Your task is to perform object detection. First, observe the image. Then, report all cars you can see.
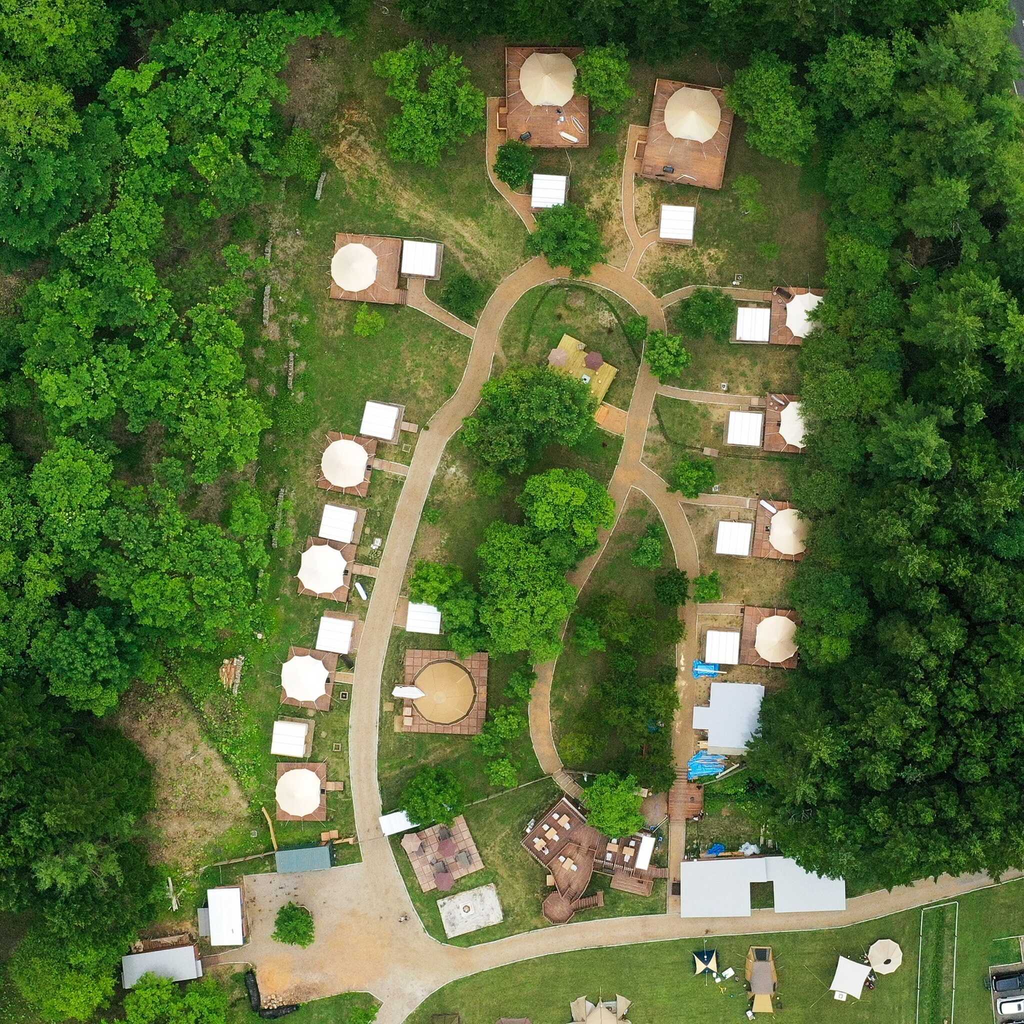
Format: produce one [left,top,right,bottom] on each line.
[996,993,1024,1015]
[1002,1018,1024,1024]
[992,972,1024,995]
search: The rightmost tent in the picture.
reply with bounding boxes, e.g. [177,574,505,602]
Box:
[868,939,902,974]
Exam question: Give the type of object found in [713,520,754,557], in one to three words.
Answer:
shed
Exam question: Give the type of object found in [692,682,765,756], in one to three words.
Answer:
building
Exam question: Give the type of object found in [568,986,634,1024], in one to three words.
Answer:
tent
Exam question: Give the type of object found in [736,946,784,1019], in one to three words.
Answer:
tent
